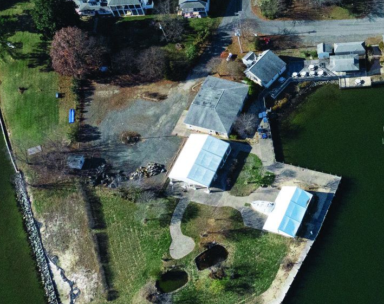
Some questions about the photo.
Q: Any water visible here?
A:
Yes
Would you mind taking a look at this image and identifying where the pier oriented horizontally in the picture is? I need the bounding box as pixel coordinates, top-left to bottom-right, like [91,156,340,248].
[340,76,371,92]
